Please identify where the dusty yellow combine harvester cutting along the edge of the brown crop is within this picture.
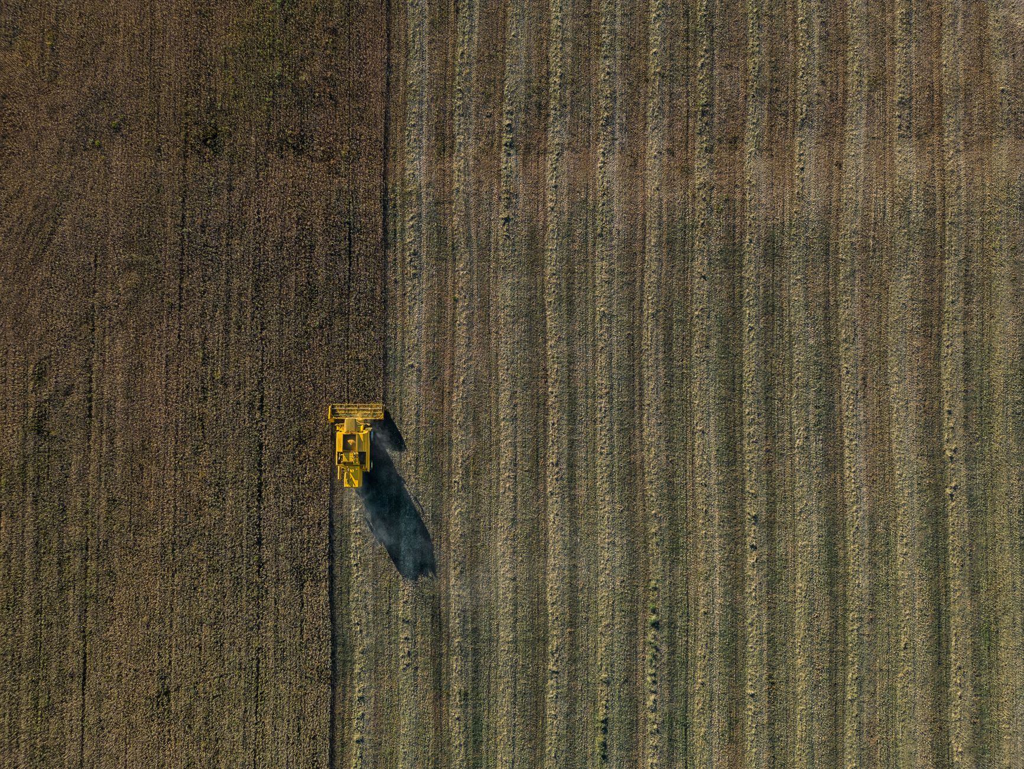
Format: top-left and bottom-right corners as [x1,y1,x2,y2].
[329,400,386,487]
